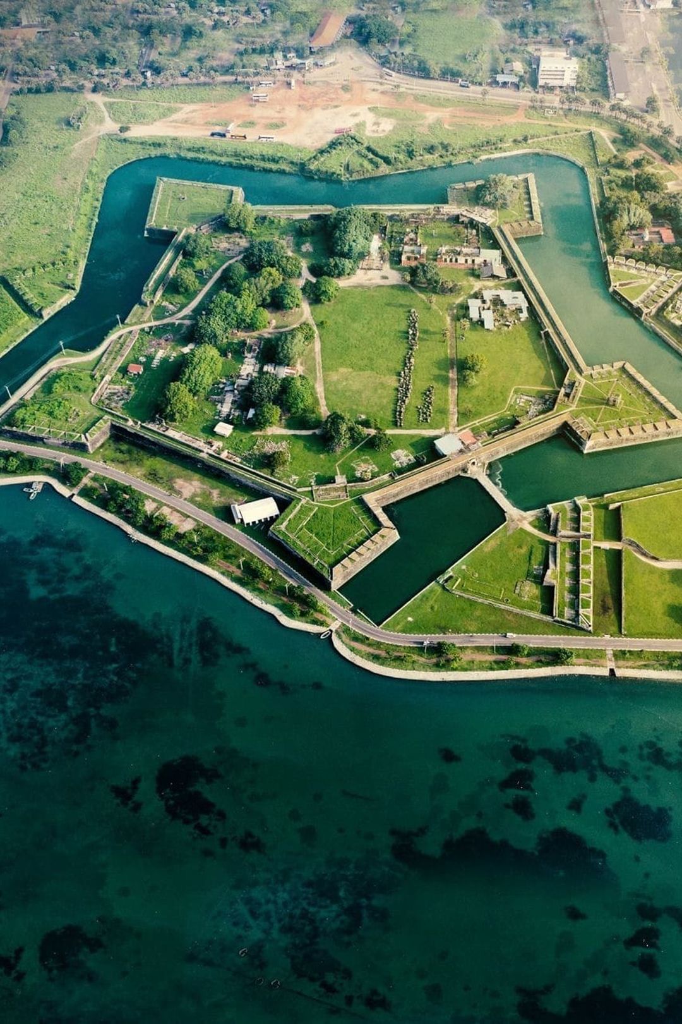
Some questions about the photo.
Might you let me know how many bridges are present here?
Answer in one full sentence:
The count comes to 1 bridge.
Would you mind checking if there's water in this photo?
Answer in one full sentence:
Yes, there is water in the image.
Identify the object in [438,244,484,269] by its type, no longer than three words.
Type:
house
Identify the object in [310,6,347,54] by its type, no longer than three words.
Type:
building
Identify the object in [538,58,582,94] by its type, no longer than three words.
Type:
building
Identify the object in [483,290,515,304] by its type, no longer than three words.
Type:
shed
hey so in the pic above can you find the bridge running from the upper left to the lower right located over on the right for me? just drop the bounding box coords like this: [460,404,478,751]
[464,469,529,524]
